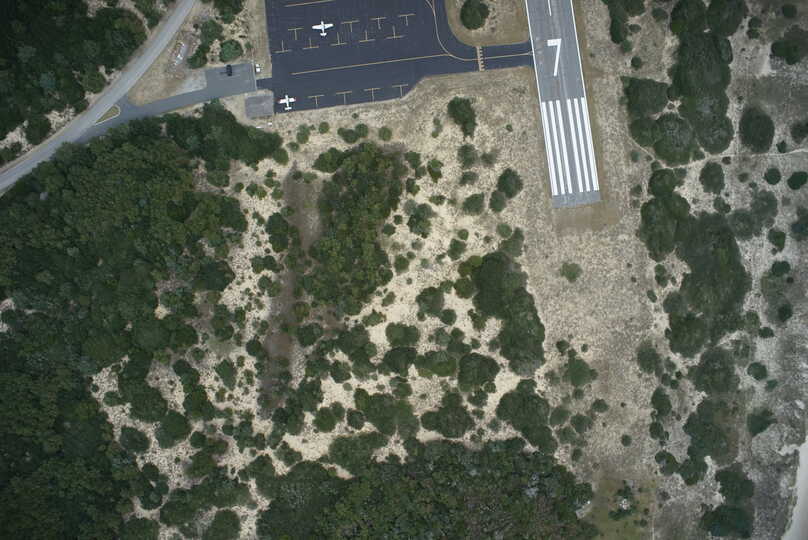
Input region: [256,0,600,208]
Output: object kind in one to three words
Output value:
airport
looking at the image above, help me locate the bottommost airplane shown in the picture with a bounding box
[277,93,297,108]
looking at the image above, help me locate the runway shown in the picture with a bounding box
[525,0,598,197]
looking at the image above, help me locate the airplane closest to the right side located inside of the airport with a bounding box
[312,19,334,35]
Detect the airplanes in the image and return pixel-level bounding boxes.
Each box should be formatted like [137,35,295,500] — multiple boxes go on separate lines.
[312,19,334,35]
[277,93,297,108]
